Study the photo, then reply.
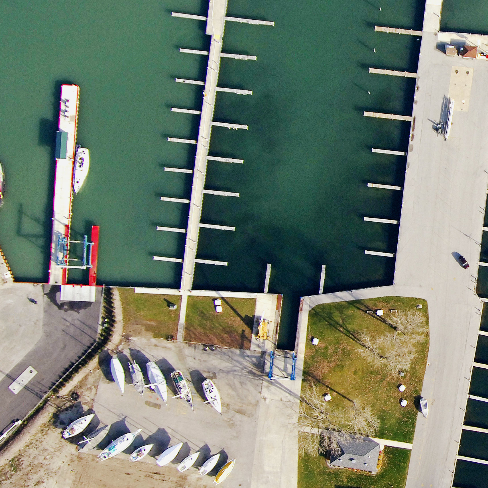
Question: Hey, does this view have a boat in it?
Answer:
Yes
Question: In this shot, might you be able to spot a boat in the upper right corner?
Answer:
No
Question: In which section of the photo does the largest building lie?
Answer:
bottom right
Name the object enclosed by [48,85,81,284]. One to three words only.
pier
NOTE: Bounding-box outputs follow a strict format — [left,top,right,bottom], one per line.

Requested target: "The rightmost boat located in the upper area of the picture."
[74,148,90,194]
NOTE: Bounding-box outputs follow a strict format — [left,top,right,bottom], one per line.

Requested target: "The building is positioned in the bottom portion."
[330,438,380,473]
